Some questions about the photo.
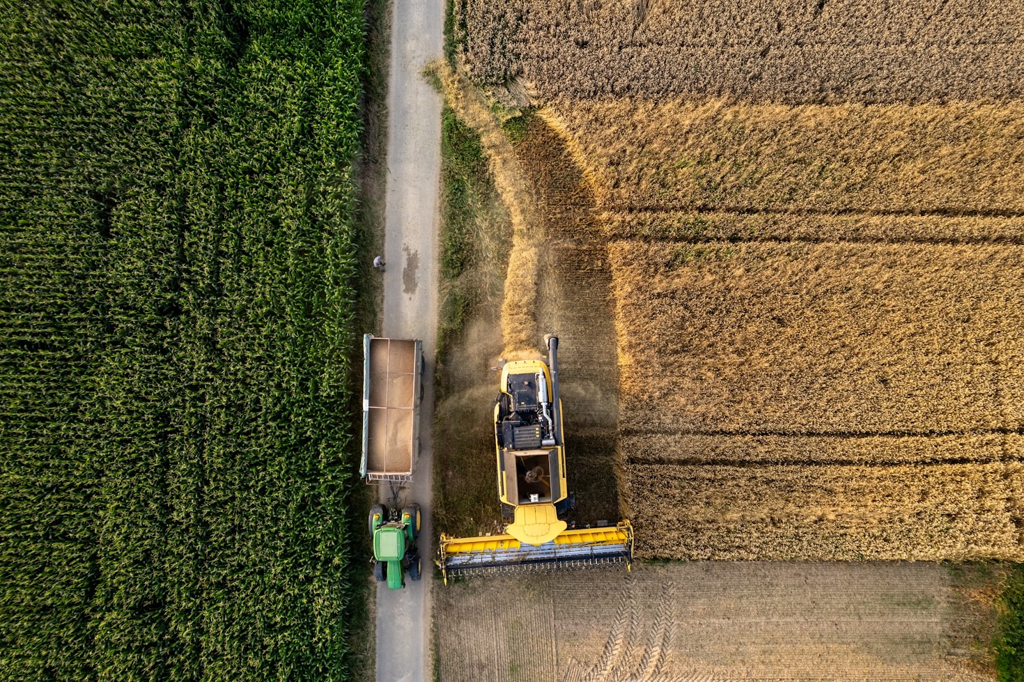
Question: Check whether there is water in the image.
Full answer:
No, water can't be seen anywhere here.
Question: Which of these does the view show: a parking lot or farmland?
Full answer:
This image shows farmland.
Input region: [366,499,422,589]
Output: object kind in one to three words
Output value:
work vehicle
